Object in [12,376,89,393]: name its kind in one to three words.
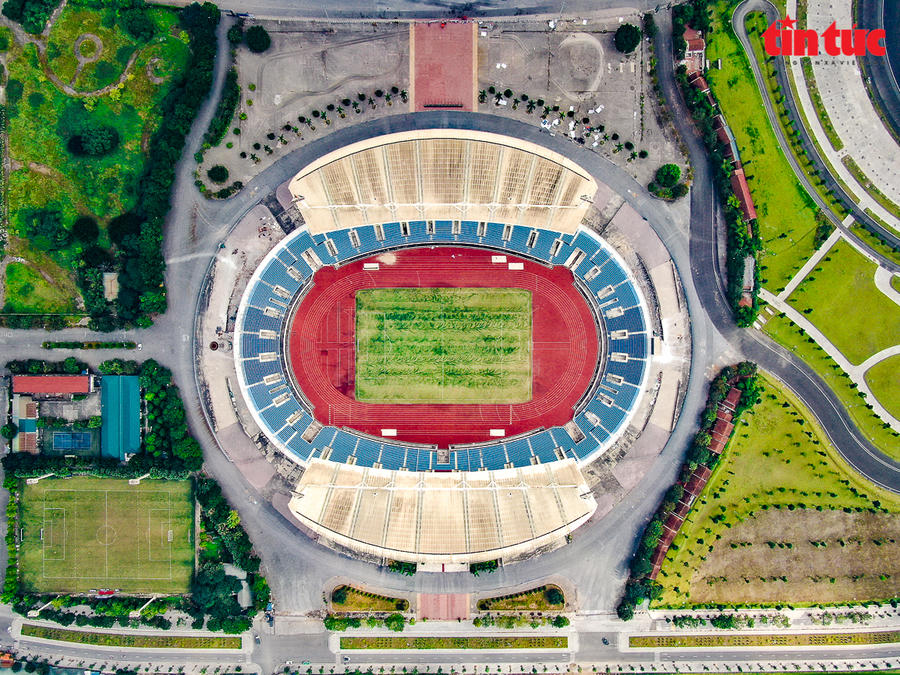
building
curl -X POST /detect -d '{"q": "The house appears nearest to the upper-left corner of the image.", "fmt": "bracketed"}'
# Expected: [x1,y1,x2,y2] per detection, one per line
[104,272,120,300]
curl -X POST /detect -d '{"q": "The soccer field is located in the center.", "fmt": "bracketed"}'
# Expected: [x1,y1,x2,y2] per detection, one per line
[355,287,533,403]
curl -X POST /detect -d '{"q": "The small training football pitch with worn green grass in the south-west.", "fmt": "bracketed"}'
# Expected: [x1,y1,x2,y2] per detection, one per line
[20,478,194,593]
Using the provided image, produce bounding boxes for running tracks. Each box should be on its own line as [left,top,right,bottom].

[287,247,602,448]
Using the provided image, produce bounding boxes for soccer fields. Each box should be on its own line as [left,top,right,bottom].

[355,287,533,403]
[20,478,194,593]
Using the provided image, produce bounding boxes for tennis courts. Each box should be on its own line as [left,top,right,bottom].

[39,426,101,456]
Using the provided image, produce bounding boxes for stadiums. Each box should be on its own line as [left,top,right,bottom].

[234,128,655,562]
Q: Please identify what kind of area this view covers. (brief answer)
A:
sports ground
